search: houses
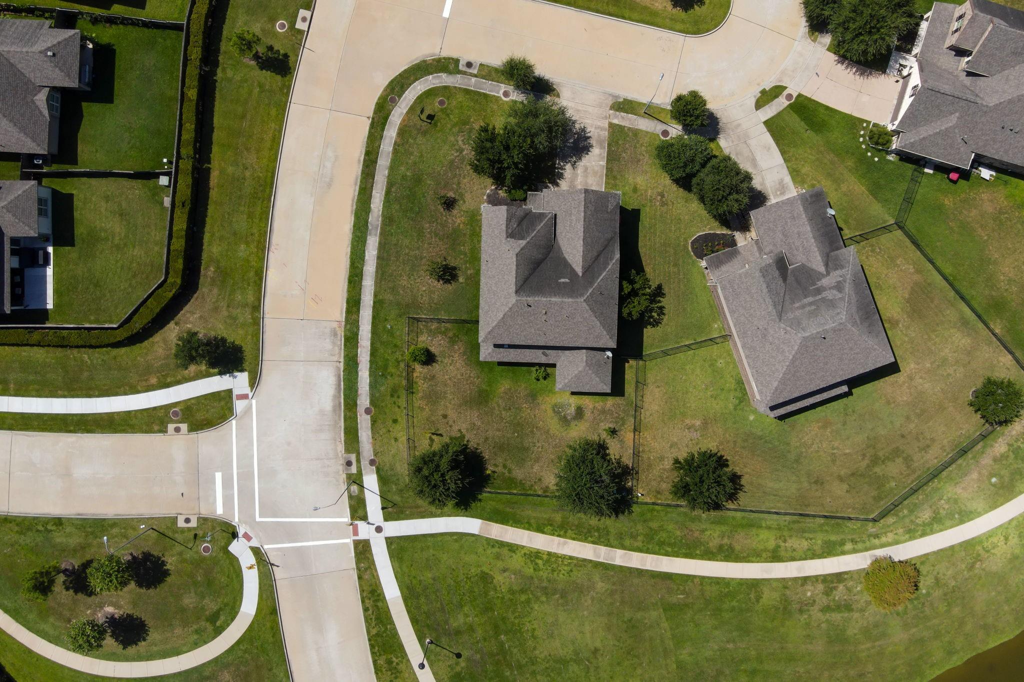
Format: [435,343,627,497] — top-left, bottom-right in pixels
[703,187,895,418]
[887,0,1024,174]
[479,188,621,393]
[0,19,95,155]
[0,180,54,313]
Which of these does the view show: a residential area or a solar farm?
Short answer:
residential area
